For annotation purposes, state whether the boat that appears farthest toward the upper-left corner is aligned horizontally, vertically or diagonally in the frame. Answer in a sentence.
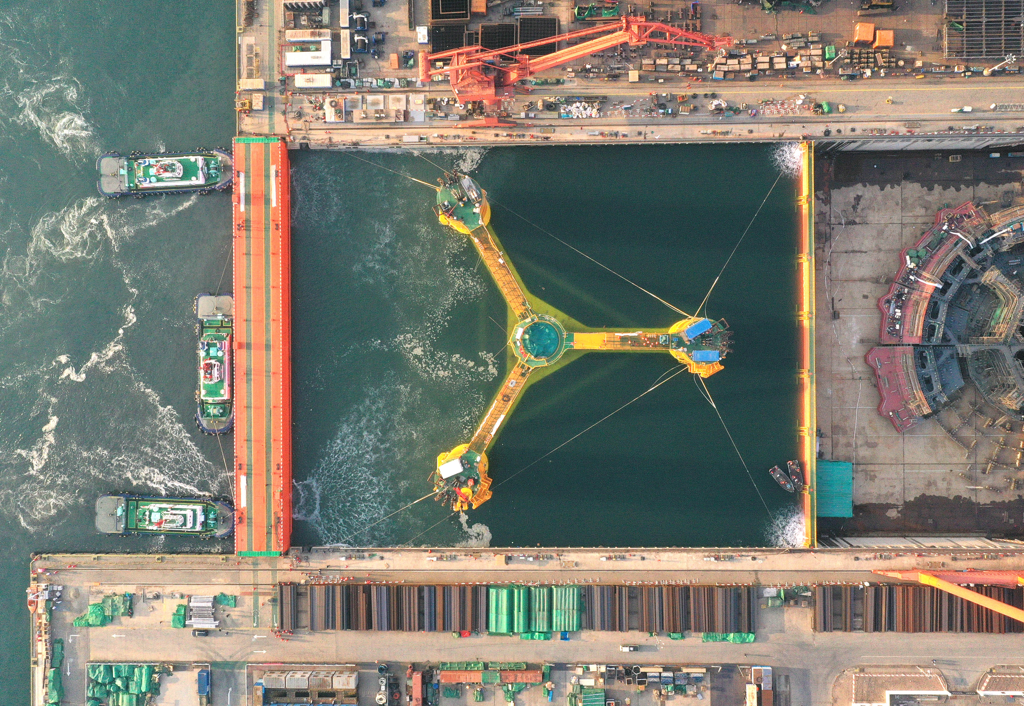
In this picture, the boat that appears farthest toward the upper-left corner is oriented horizontally.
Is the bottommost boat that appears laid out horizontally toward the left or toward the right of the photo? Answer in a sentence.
The bottommost boat that appears laid out horizontally is on the left side of the image.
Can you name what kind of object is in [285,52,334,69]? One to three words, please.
building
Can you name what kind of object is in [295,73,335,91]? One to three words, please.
building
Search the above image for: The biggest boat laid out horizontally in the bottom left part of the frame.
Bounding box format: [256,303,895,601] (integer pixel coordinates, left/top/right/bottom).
[101,491,234,540]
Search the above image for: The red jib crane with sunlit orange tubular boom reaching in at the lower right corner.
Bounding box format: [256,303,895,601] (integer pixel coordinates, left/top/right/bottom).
[872,567,1024,624]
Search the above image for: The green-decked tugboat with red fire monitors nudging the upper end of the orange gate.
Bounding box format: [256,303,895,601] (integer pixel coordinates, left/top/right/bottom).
[99,150,232,201]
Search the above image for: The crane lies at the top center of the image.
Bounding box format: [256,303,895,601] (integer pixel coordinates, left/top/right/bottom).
[419,14,735,129]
